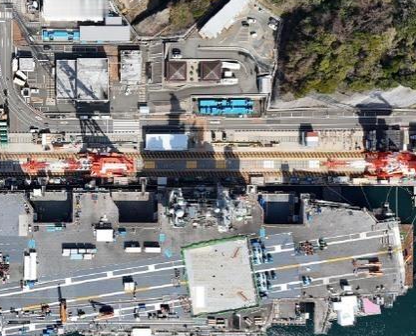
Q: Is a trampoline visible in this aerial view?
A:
No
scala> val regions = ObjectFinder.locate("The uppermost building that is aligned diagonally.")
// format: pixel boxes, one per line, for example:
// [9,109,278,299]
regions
[197,0,249,41]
